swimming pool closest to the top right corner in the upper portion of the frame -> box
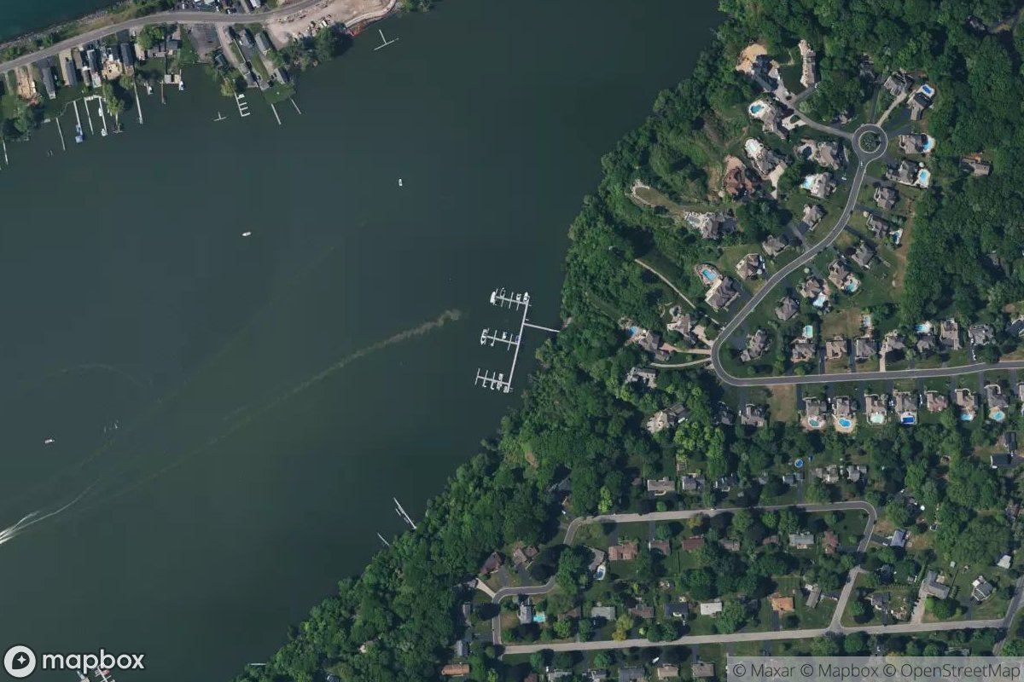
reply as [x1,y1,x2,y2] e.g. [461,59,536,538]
[919,81,937,98]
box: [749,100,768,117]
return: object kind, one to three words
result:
swimming pool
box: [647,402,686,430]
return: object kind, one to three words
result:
house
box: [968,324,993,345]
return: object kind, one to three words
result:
house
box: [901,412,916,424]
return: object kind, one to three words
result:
swimming pool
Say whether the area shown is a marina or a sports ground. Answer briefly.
marina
